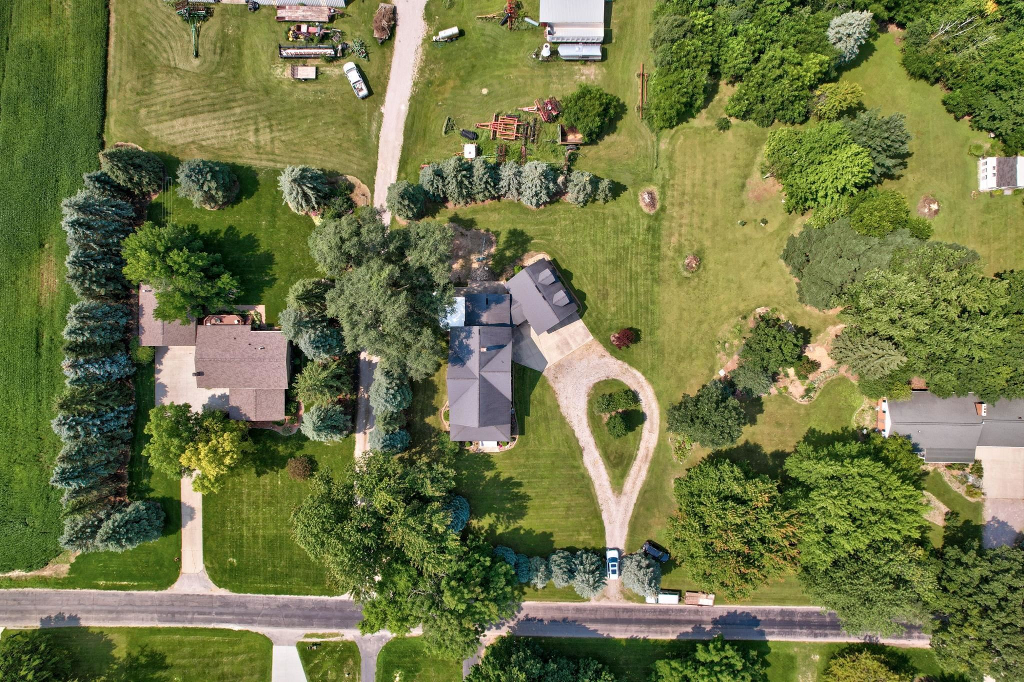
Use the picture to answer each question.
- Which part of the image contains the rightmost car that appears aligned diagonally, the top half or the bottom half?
bottom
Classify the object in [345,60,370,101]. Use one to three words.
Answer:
truck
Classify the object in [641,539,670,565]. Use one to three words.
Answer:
car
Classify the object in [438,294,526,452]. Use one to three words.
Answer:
house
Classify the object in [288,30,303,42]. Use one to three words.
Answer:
vehicle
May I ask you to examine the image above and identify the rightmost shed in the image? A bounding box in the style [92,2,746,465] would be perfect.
[978,156,1024,196]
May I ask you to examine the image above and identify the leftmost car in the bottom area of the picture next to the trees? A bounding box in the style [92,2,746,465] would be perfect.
[606,546,621,580]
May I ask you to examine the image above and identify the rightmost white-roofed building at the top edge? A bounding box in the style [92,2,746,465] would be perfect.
[540,0,604,33]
